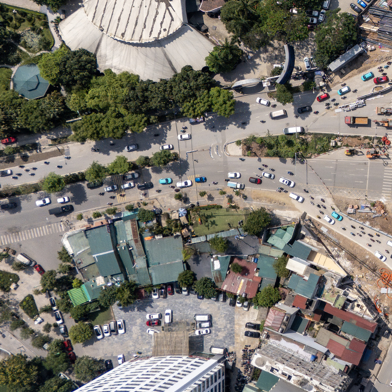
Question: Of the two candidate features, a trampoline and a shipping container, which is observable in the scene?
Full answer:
Of the two, only a shipping container appears.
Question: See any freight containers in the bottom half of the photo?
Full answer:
No, there is no freight container in the bottom half of the photo.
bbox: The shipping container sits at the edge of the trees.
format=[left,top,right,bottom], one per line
[328,45,367,72]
